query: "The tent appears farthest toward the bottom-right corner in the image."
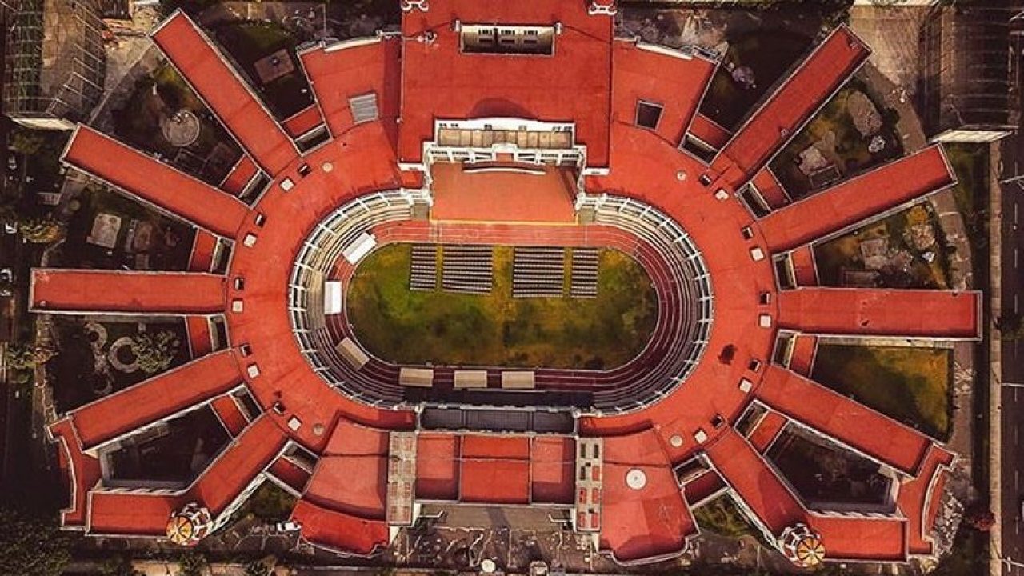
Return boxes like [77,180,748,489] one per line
[502,370,534,389]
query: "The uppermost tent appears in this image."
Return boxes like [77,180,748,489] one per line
[344,232,376,264]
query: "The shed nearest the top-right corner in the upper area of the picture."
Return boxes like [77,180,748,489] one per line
[930,0,1012,142]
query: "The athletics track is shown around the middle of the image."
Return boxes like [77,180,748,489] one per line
[323,217,683,396]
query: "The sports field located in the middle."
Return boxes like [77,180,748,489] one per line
[348,242,657,371]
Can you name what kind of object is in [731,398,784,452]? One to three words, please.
building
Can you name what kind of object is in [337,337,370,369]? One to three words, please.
tent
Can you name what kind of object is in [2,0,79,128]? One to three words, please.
shed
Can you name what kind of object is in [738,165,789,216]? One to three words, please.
building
